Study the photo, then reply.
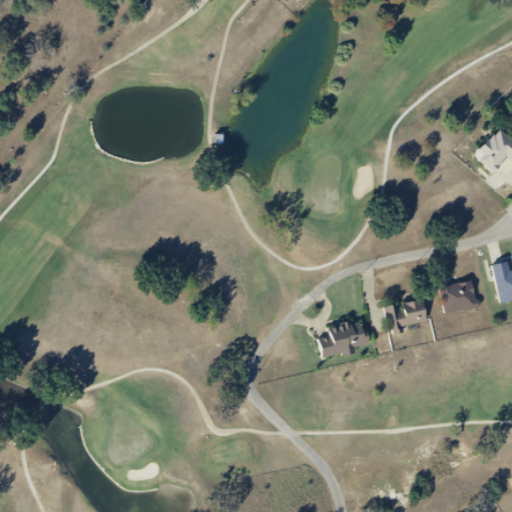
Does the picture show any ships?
No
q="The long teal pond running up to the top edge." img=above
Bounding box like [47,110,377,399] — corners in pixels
[226,0,338,186]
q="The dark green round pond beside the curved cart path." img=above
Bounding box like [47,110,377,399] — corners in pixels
[93,86,204,162]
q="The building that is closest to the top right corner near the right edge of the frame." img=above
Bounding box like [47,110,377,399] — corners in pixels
[472,128,512,176]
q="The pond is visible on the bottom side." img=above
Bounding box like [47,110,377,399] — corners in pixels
[0,379,195,512]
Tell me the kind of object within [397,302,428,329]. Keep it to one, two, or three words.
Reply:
house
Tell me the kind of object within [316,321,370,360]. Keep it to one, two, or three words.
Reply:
house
